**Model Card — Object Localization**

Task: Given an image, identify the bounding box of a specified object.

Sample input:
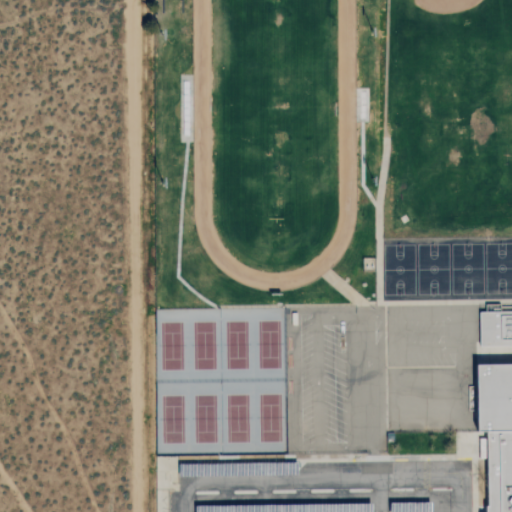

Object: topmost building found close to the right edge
[480,311,512,346]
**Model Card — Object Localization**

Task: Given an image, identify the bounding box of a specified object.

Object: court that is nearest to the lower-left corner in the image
[163,396,185,443]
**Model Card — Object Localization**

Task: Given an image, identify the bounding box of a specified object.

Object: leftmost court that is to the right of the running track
[384,244,418,297]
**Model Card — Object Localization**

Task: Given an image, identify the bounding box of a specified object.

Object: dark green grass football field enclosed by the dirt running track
[212,0,339,272]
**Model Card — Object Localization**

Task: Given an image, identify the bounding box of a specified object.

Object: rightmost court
[486,242,512,296]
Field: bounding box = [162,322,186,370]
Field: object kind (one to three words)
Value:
tennis court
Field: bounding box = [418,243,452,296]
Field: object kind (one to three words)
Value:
basketball court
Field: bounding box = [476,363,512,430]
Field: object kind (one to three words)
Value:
building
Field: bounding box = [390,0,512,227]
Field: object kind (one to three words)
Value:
baseball field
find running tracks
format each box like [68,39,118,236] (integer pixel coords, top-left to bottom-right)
[194,0,357,292]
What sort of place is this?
sports ground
